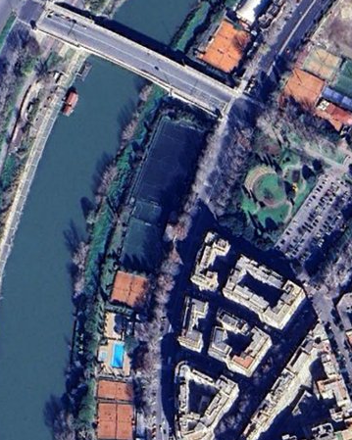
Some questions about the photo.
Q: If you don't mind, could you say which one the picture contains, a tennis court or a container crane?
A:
tennis court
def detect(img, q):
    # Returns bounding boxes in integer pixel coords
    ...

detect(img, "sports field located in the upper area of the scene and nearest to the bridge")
[133,118,205,214]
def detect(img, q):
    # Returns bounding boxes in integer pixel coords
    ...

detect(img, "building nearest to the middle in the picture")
[192,232,230,292]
